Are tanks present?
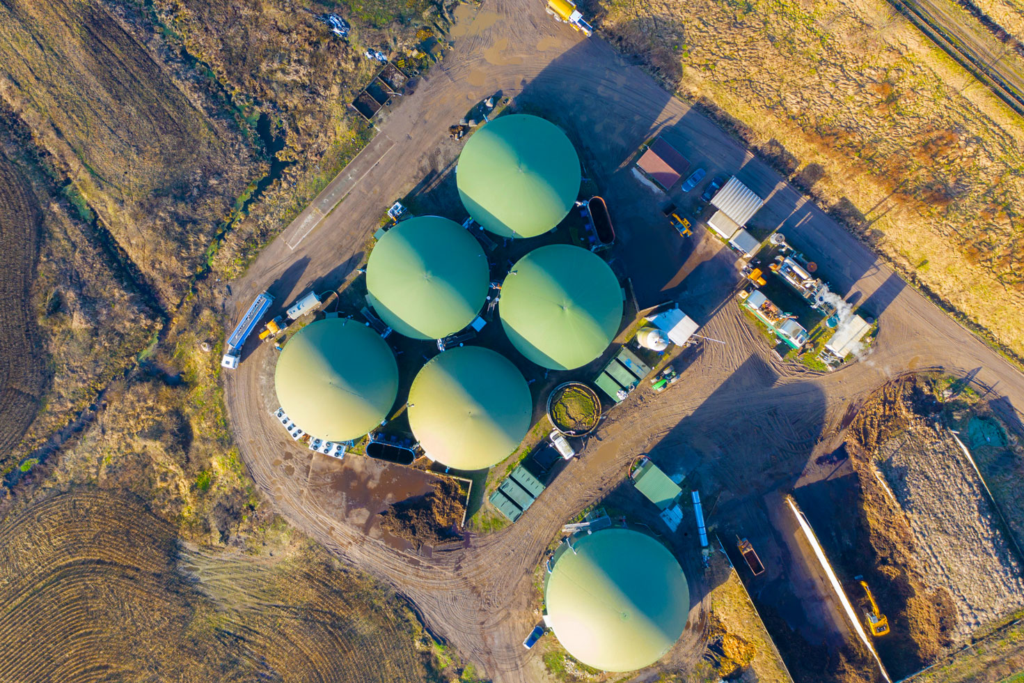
Yes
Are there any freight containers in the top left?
No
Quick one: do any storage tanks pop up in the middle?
Yes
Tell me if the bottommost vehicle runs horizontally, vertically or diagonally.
diagonally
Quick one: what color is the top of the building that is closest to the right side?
white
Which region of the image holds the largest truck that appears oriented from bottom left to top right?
left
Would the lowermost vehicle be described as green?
No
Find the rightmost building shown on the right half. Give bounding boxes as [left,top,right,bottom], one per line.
[822,314,870,359]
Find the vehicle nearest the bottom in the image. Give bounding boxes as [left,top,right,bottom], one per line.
[523,623,544,648]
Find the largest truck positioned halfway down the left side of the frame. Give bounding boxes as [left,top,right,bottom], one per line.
[218,292,279,364]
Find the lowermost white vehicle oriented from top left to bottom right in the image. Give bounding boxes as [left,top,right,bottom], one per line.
[547,429,576,461]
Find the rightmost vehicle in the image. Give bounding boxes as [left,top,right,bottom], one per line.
[855,578,890,637]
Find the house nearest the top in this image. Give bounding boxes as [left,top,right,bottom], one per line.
[636,137,691,192]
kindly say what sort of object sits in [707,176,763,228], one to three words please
shed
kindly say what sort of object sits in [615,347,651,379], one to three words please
shipping container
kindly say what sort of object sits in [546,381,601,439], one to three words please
storage tank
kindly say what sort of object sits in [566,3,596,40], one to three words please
work vehicle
